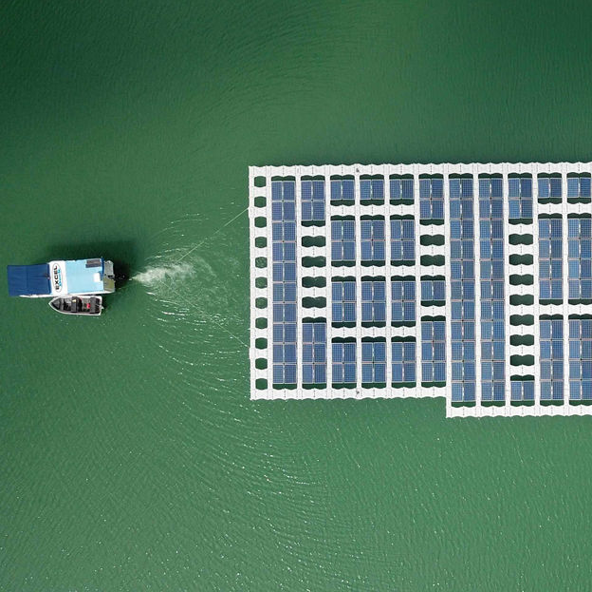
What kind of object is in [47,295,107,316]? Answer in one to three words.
boat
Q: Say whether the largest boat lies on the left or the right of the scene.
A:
left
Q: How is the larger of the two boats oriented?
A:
from left to right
